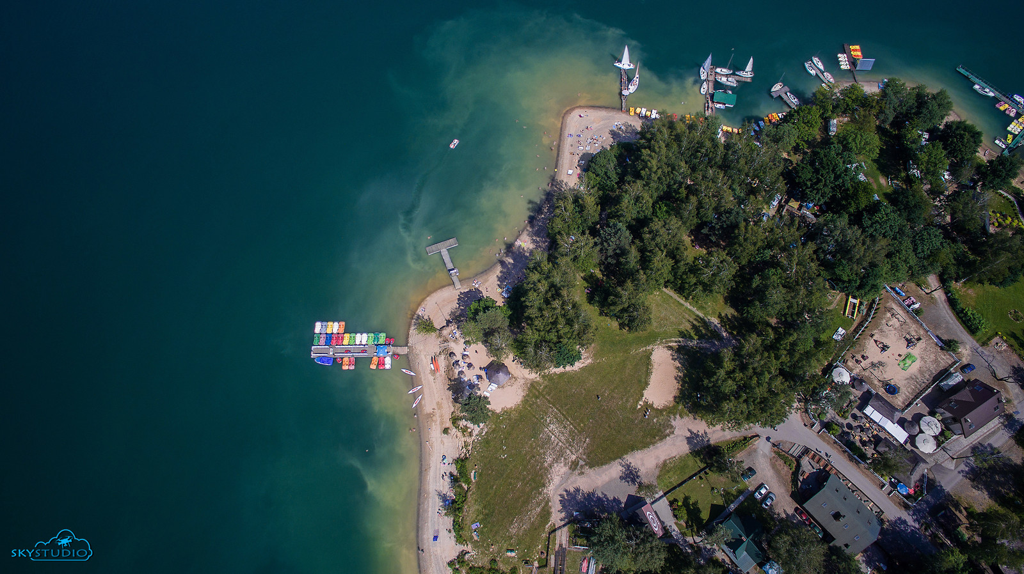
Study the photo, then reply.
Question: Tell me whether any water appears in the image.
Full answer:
Yes, there is water in the image.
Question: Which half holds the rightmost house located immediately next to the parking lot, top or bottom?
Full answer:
It is in the bottom half that the rightmost house located immediately next to the parking lot appears.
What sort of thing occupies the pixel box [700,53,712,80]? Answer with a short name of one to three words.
boat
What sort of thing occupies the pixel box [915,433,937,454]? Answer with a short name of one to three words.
umbrella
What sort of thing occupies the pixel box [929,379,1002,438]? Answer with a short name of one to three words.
house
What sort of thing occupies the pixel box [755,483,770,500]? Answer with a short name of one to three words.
car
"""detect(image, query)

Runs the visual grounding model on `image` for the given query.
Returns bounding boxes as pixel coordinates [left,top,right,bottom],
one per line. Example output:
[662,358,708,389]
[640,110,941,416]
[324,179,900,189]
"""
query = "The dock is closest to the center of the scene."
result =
[425,236,462,291]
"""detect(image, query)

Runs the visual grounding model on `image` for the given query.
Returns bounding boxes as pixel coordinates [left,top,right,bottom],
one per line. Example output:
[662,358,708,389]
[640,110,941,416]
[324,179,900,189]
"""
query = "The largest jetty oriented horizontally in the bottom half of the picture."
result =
[311,345,409,358]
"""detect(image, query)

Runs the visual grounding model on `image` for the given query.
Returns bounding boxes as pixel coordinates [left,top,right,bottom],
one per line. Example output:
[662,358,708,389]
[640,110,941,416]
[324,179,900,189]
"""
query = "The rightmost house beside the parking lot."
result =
[797,472,880,556]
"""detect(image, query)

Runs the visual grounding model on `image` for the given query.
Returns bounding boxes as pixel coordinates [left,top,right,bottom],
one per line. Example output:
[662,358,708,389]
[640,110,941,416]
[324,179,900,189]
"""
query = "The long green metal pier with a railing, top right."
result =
[955,64,1024,113]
